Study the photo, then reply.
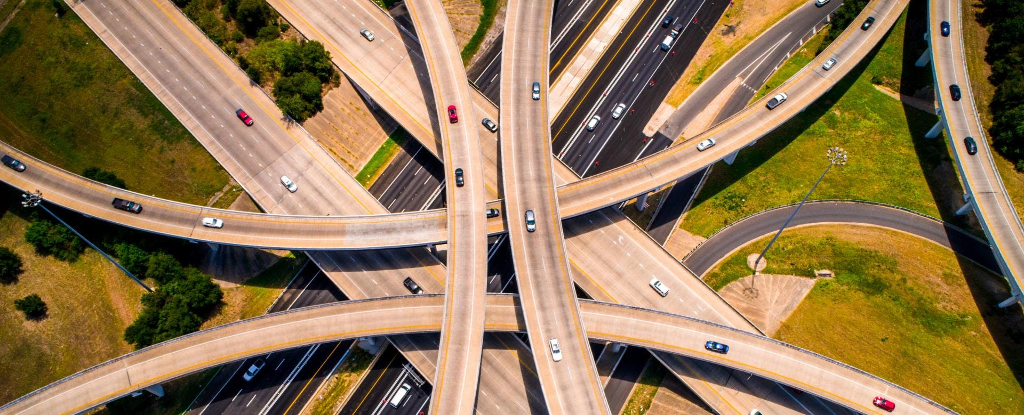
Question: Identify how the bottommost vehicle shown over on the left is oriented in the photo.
at an angle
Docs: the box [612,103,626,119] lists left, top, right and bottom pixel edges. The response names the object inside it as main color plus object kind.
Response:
white car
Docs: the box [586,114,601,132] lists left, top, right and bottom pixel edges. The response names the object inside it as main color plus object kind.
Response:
white car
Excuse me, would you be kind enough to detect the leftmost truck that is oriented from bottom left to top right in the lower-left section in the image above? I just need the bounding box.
[242,356,266,383]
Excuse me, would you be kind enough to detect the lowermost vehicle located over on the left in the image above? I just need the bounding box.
[390,383,411,408]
